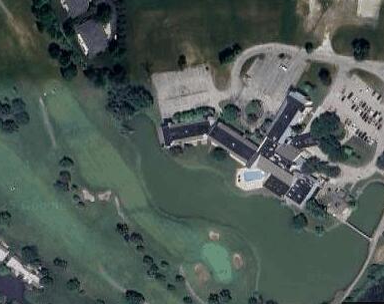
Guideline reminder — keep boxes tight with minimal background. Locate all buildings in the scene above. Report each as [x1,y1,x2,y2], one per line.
[156,90,319,206]
[59,0,93,22]
[5,252,43,291]
[75,17,111,60]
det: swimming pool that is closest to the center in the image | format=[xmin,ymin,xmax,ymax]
[235,167,268,190]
